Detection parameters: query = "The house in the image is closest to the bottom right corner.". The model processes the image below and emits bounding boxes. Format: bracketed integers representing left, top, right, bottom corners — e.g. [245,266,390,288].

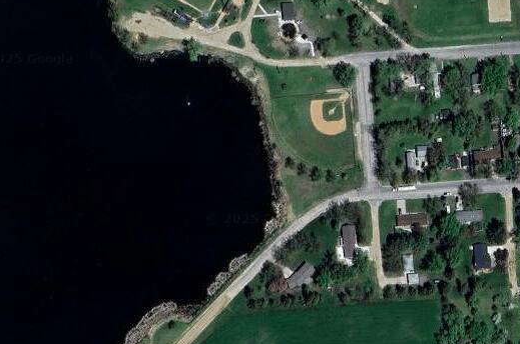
[471,243,488,270]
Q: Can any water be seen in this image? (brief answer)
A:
Yes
